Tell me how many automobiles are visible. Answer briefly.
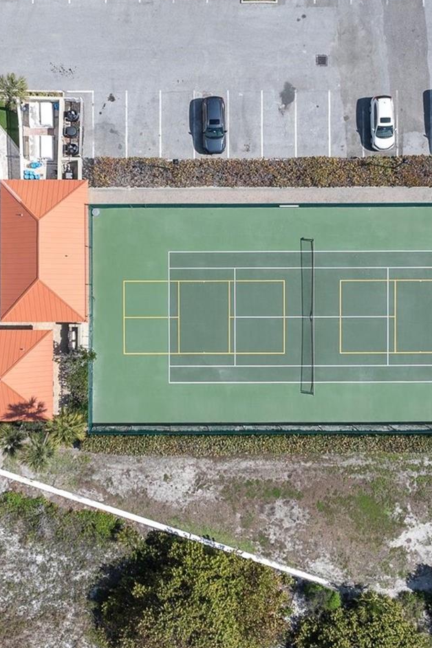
2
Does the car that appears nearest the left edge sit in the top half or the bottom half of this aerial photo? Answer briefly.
top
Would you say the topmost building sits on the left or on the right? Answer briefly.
left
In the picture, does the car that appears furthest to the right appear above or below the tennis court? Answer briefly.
above it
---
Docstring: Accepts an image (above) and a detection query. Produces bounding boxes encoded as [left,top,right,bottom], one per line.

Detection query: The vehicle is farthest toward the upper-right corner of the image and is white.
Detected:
[369,96,398,153]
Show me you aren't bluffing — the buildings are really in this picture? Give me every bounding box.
[0,329,57,421]
[0,179,88,322]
